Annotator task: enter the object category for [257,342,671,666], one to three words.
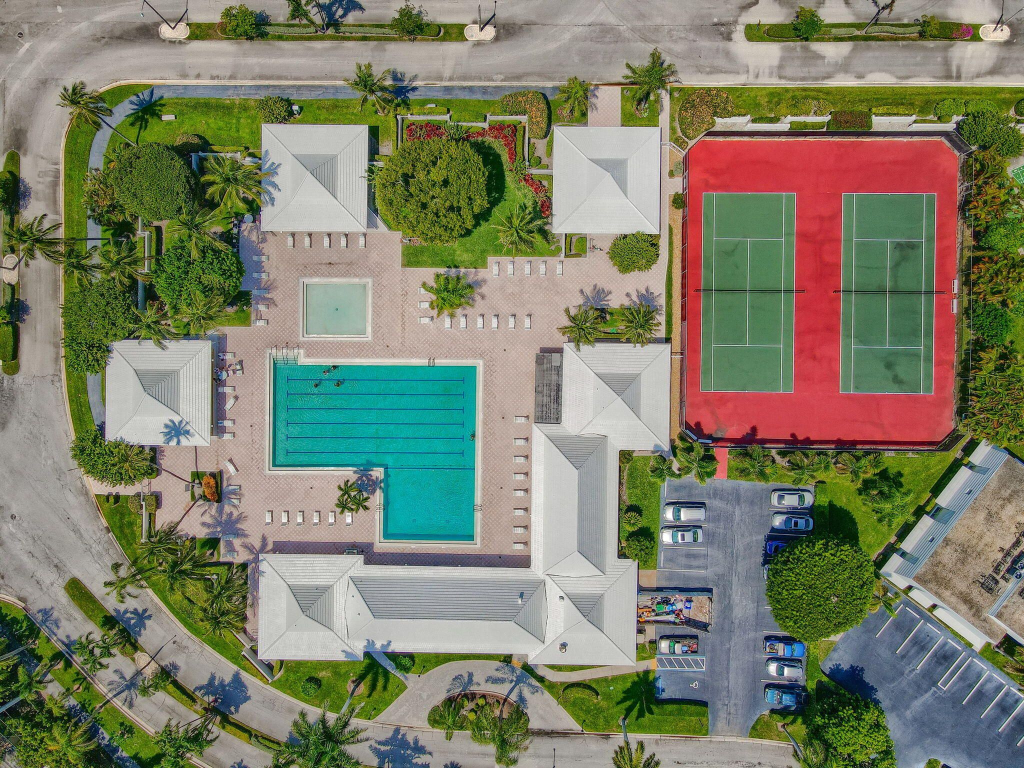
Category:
building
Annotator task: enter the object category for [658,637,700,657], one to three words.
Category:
vehicle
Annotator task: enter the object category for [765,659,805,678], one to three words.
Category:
car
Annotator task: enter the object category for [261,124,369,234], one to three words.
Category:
building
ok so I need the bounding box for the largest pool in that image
[264,345,486,550]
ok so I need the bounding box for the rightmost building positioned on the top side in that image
[553,126,661,235]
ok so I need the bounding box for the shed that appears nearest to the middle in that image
[535,353,562,423]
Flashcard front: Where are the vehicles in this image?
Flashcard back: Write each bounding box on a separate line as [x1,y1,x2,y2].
[771,514,814,532]
[664,503,707,522]
[765,685,809,705]
[765,539,806,556]
[762,639,807,659]
[658,637,700,657]
[661,527,703,545]
[765,659,805,678]
[770,490,813,508]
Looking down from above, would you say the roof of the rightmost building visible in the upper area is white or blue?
white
